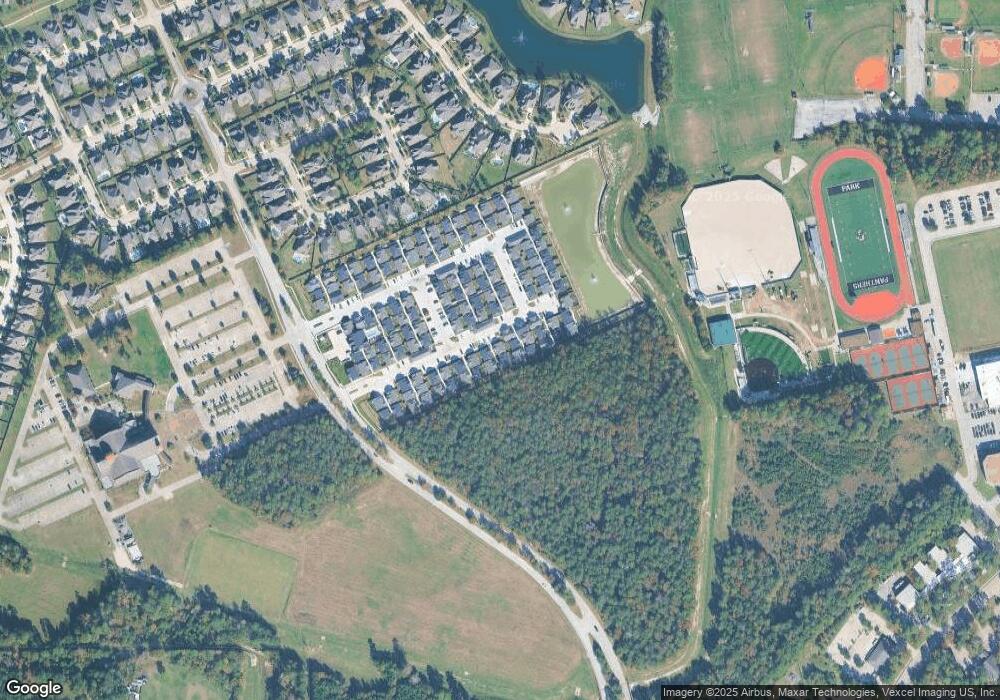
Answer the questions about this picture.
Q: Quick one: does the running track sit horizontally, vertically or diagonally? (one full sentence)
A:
The running track is laid out vertically.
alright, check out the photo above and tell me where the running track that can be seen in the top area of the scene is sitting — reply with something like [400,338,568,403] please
[812,148,908,322]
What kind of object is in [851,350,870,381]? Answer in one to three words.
tennis court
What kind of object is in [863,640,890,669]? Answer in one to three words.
building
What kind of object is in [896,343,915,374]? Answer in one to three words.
tennis court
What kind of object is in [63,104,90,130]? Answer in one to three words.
house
